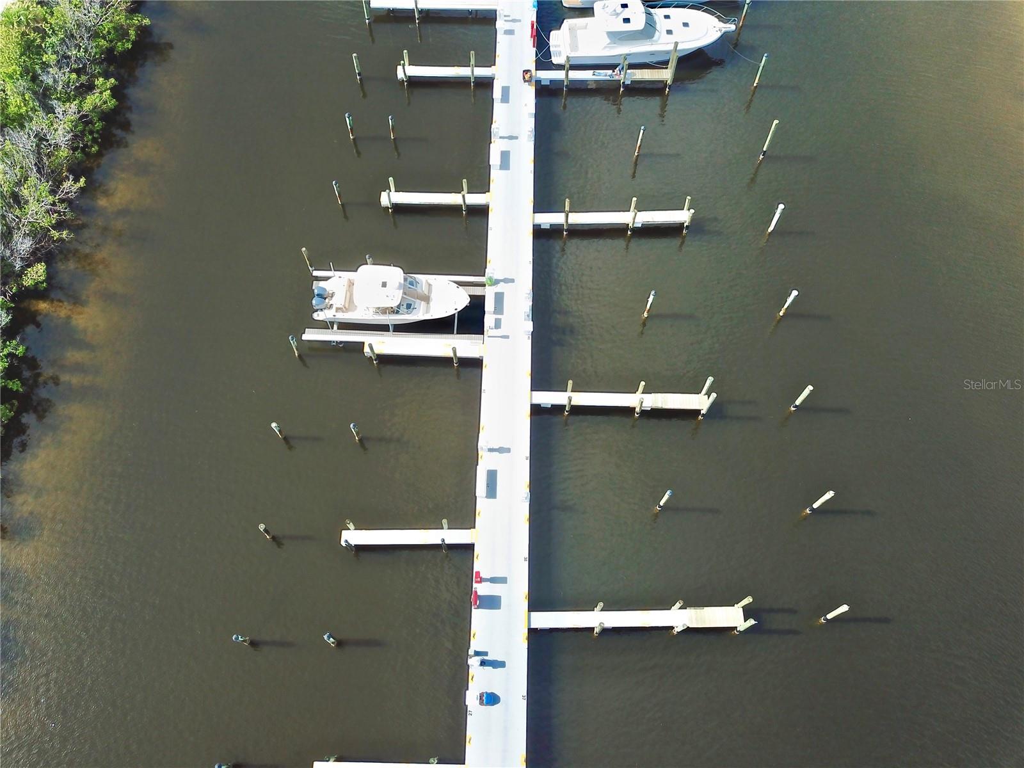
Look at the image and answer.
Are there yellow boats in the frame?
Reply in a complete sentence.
No, the picture doesn't show any yellow boat.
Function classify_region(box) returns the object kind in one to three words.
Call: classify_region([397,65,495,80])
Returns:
pier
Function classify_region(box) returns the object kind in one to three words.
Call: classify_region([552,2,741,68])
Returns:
boat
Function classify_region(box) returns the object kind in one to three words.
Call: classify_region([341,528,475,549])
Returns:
pier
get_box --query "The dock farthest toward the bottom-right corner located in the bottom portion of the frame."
[528,608,744,634]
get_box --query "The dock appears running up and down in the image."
[465,0,536,768]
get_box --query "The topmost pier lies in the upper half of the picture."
[371,0,498,21]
